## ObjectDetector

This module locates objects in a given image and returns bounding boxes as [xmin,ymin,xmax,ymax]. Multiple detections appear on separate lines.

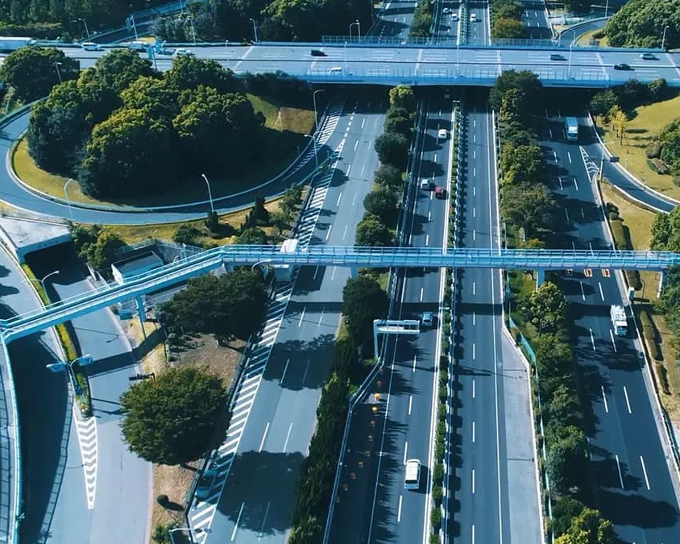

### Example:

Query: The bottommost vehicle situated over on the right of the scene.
[403,464,420,492]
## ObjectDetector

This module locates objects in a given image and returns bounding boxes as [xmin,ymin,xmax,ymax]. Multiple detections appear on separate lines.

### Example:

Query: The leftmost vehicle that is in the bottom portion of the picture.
[195,470,216,498]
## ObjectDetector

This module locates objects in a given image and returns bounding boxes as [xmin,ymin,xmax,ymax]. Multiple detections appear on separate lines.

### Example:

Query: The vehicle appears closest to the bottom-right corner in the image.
[607,305,631,339]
